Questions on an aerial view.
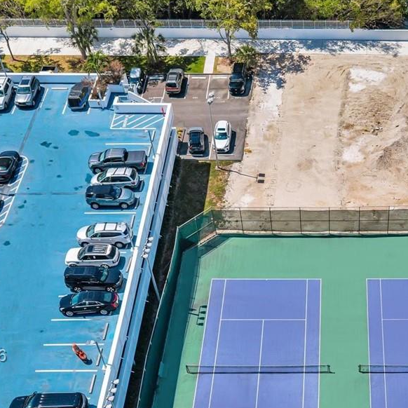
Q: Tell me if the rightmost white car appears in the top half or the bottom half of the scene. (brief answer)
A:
top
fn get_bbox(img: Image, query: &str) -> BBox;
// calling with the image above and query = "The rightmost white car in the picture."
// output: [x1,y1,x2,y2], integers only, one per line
[213,123,233,152]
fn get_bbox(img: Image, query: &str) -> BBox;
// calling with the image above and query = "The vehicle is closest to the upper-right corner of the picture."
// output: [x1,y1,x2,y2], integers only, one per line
[228,67,247,95]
